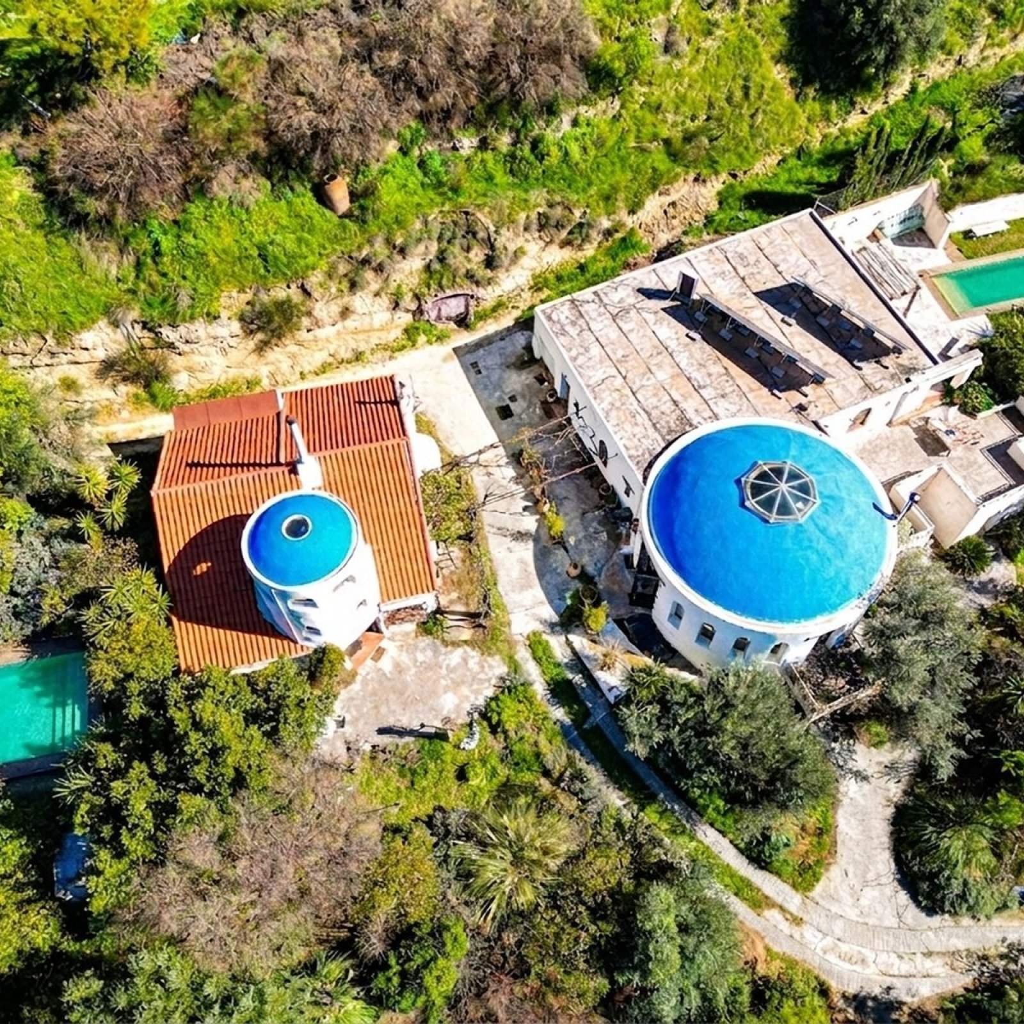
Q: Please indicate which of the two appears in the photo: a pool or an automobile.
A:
pool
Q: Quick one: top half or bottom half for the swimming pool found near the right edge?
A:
top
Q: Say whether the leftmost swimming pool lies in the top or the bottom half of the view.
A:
bottom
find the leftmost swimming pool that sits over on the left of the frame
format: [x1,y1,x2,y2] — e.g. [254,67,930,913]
[0,643,100,772]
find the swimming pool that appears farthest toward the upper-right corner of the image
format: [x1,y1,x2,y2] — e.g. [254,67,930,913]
[918,247,1024,323]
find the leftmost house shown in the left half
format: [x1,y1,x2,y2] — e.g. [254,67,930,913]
[149,364,446,699]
